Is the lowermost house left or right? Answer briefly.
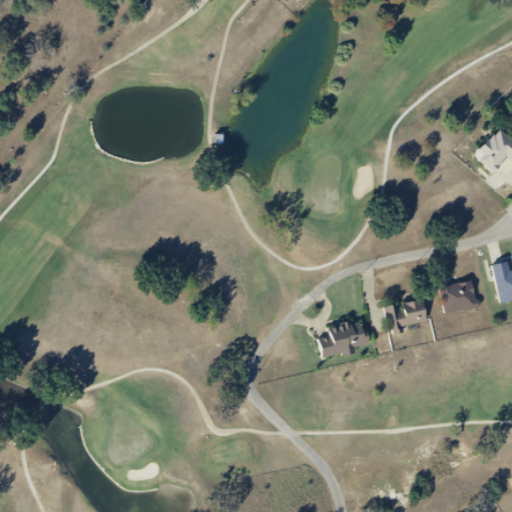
right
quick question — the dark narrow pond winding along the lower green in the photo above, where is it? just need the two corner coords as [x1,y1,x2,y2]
[0,379,195,512]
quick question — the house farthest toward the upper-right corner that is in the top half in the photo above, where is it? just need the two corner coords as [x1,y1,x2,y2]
[472,128,512,176]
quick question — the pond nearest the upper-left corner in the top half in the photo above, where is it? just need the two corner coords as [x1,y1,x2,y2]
[93,86,204,162]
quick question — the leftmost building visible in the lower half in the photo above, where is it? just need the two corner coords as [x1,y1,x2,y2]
[316,321,370,360]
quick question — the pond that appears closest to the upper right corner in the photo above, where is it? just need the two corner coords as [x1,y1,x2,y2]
[226,0,338,186]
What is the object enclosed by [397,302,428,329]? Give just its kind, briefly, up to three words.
house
